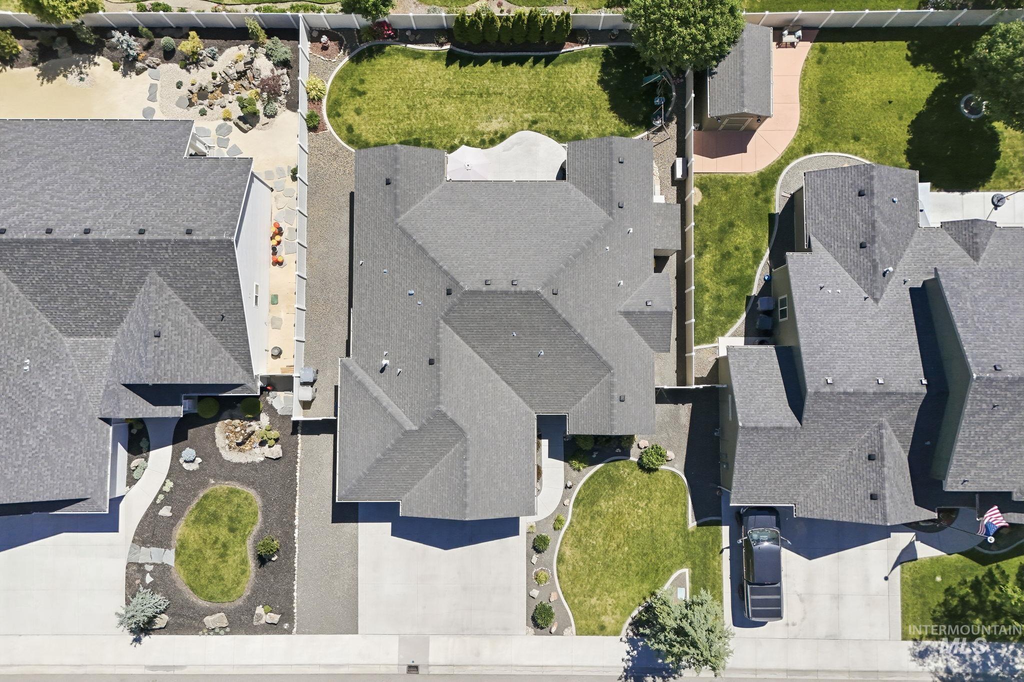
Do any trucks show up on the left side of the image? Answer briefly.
No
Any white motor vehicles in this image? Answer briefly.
No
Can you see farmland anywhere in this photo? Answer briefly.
No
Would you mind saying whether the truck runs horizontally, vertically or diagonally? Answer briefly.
vertically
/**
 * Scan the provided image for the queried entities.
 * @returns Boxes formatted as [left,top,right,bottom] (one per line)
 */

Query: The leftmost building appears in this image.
[0,117,271,516]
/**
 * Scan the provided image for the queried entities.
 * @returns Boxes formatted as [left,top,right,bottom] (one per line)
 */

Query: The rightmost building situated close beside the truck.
[717,163,1024,526]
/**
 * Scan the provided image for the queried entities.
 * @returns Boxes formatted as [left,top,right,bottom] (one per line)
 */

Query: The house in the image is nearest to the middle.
[336,137,681,521]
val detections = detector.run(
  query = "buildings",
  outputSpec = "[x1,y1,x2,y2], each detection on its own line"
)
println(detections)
[0,117,271,516]
[336,137,681,521]
[717,163,1024,526]
[701,21,775,129]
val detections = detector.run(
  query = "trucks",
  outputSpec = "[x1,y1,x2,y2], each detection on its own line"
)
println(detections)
[739,506,797,622]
